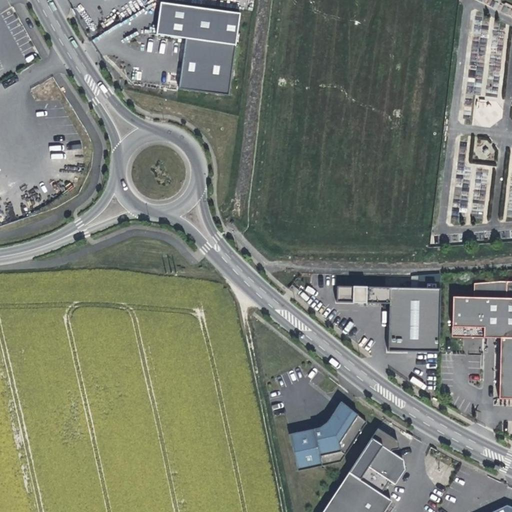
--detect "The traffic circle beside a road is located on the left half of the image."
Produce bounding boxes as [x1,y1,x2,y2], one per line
[86,96,215,246]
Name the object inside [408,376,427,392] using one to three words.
vehicle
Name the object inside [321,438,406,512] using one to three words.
building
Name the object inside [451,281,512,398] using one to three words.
building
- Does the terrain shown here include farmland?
Yes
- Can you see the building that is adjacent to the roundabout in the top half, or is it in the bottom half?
top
